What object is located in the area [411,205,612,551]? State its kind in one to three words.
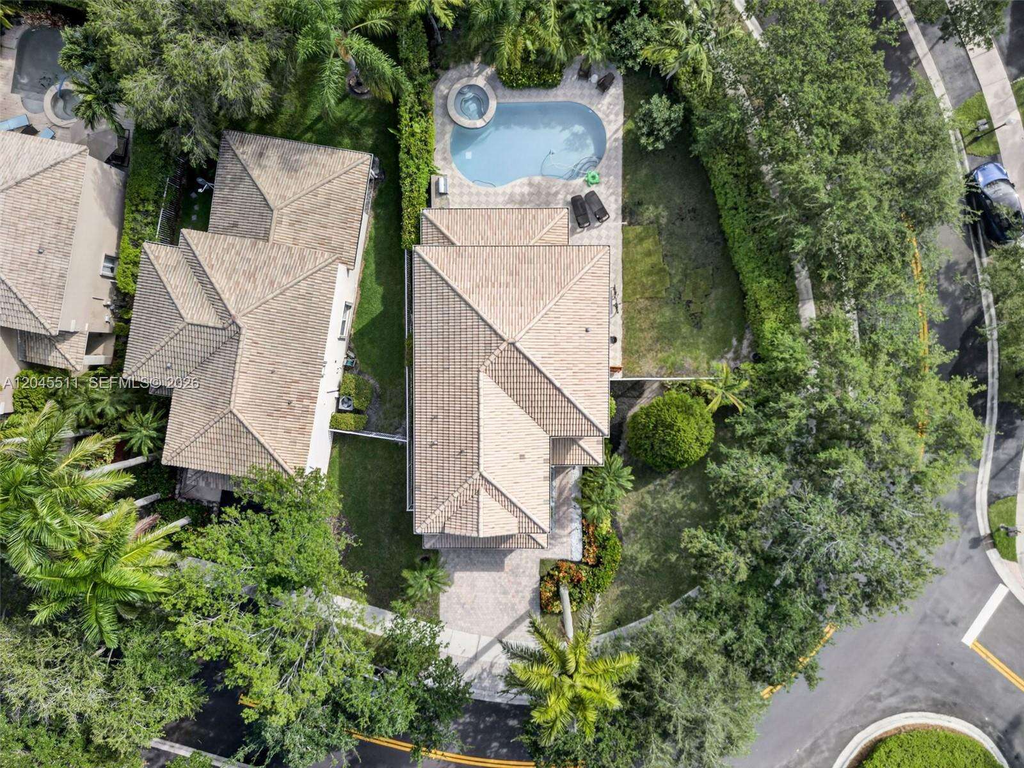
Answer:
house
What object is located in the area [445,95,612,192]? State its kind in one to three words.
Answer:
swimming pool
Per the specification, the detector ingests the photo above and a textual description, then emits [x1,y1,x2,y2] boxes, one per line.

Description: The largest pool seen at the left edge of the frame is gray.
[6,24,78,117]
